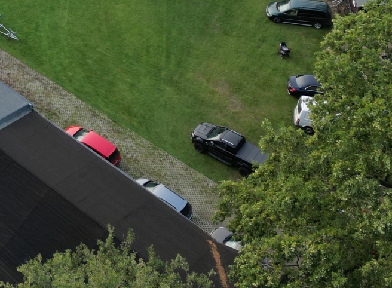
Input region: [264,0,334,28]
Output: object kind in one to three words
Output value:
car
